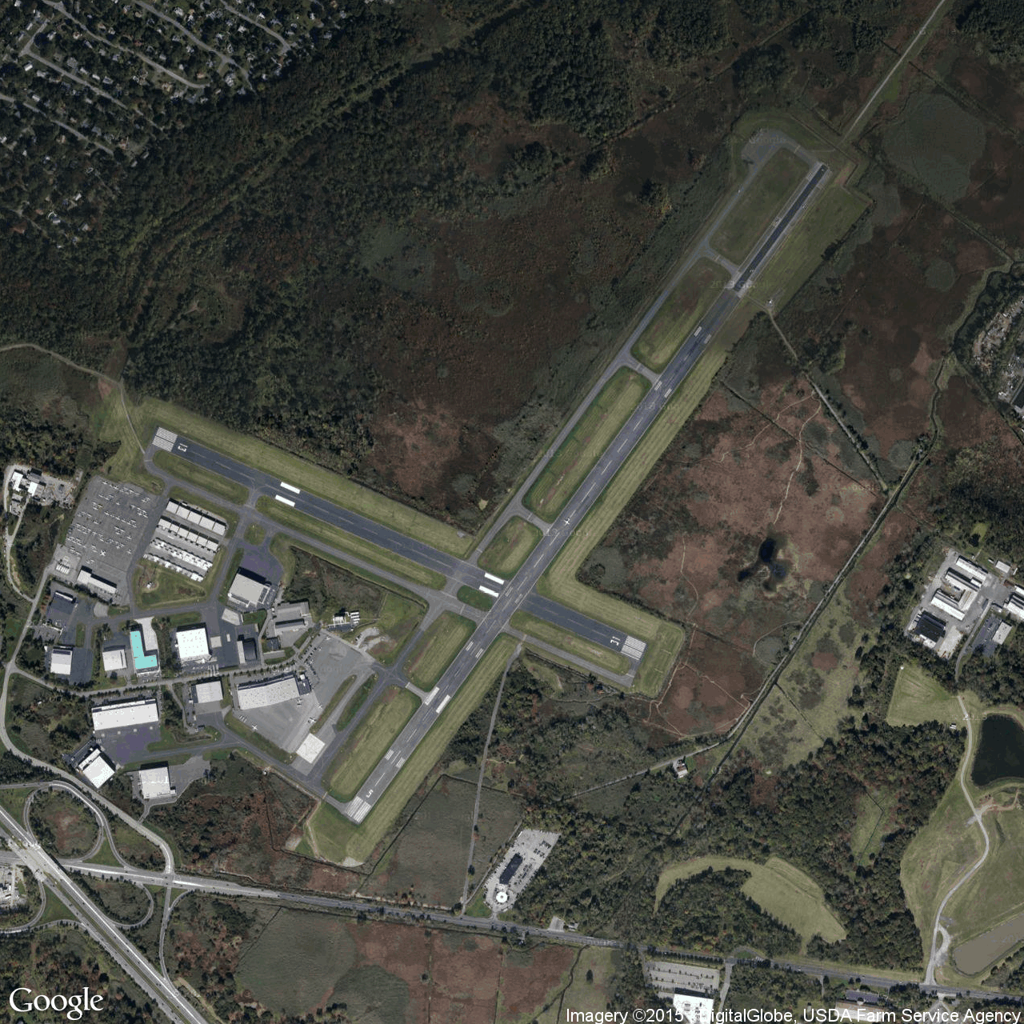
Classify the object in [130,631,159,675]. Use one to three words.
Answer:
hangar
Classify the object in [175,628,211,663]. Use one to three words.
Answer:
hangar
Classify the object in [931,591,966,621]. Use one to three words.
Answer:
building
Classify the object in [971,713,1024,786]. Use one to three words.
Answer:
pond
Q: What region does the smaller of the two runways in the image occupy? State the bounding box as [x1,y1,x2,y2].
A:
[149,426,650,662]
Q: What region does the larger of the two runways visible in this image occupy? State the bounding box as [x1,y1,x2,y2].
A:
[344,163,832,823]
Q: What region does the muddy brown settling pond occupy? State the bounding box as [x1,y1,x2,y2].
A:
[953,914,1024,974]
